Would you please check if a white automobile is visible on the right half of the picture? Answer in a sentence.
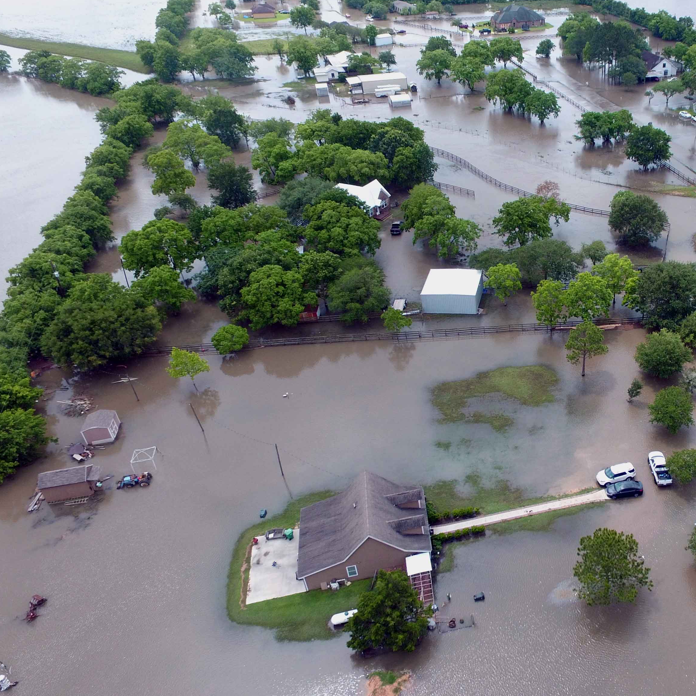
Yes, a white automobile shows up on the right half of the picture.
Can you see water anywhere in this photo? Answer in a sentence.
Yes, the picture does contain water.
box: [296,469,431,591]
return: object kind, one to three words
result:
house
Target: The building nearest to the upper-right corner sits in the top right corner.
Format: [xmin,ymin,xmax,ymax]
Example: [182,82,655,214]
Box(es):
[634,48,690,83]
